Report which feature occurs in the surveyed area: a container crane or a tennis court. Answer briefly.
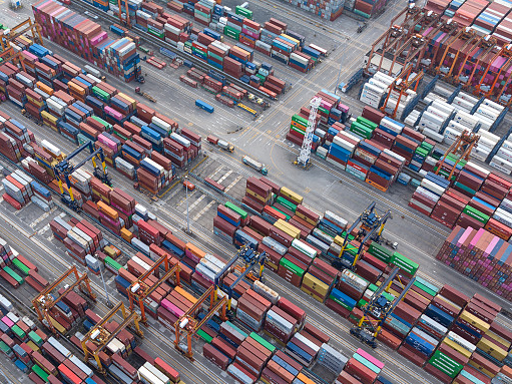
container crane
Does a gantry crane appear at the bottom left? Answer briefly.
Yes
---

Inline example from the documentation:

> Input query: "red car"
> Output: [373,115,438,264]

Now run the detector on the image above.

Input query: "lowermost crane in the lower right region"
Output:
[349,268,417,348]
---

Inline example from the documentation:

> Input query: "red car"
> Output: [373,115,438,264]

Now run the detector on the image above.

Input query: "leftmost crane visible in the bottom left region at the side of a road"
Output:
[30,264,99,337]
